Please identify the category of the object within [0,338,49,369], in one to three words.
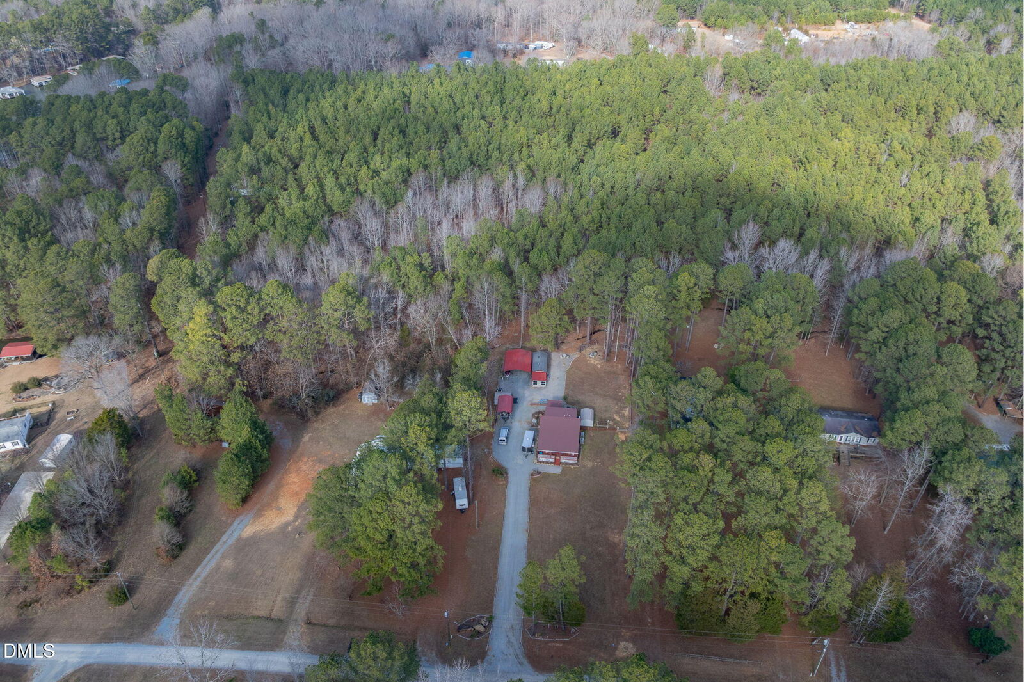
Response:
building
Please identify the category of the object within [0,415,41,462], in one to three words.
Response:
house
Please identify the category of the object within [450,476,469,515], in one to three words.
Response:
vehicle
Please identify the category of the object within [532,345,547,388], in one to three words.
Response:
shed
